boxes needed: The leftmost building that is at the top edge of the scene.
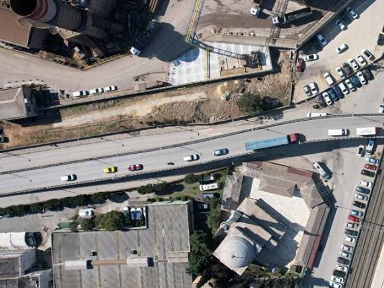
[0,6,45,48]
